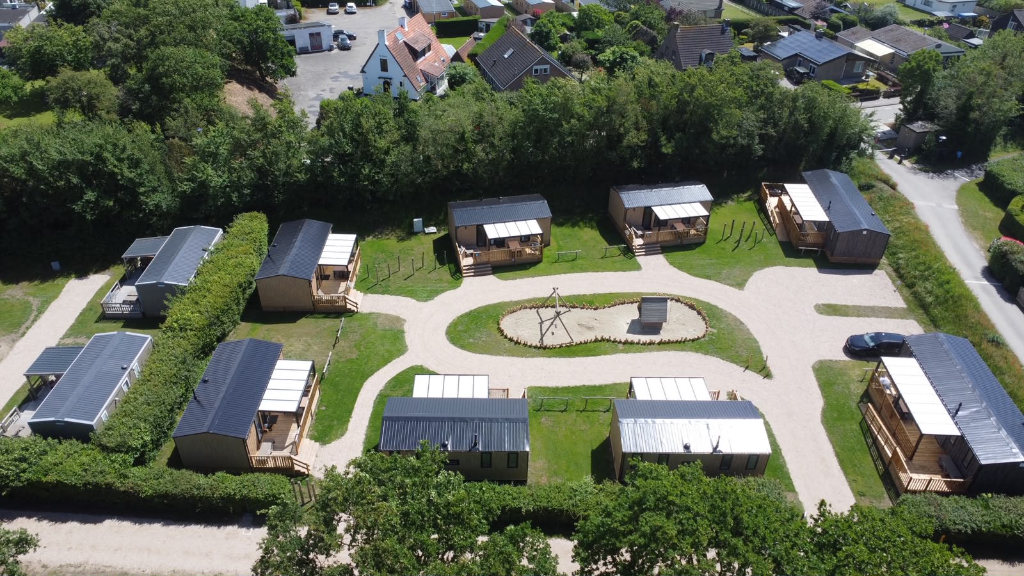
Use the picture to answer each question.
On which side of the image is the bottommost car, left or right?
right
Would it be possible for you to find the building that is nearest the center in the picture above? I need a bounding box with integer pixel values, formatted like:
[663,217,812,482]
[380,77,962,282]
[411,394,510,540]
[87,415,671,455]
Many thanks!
[448,191,553,276]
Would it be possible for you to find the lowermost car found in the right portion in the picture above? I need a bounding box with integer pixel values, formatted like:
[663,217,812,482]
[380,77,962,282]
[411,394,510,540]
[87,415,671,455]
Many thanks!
[842,327,909,357]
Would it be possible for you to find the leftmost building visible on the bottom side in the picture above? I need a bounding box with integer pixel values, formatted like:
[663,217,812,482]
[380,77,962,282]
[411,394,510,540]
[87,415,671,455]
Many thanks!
[0,330,159,456]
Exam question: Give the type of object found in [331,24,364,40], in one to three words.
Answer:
car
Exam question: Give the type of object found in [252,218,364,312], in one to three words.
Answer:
building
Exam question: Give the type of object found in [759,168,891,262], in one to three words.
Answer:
building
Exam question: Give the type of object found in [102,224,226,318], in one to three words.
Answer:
house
